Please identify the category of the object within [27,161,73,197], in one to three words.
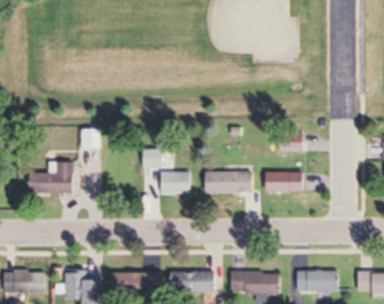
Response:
house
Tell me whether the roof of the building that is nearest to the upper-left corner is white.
Yes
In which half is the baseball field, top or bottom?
top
